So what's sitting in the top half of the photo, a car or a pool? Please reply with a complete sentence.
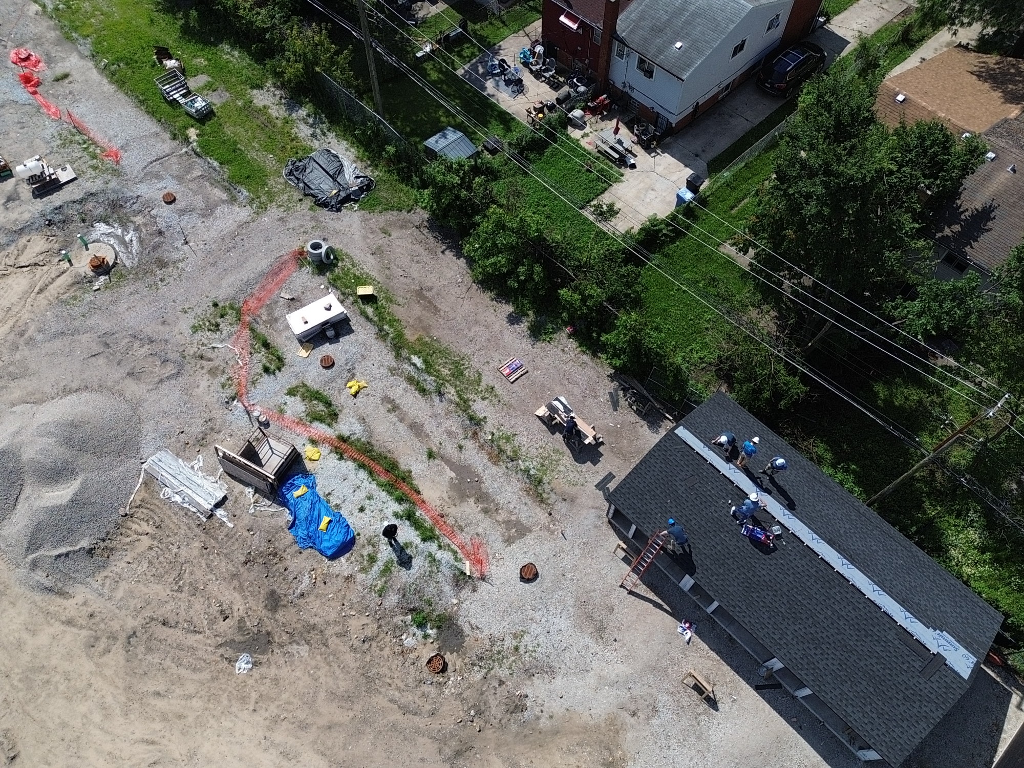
There is a car in the top half of the photo.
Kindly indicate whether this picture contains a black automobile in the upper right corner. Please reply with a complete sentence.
Yes, a black automobile appears in the upper right corner.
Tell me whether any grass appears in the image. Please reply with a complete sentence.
Yes, grass shows up in the scene.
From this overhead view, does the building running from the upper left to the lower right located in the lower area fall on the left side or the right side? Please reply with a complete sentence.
The building running from the upper left to the lower right located in the lower area sits on the right side.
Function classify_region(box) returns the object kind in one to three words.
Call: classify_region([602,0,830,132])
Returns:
house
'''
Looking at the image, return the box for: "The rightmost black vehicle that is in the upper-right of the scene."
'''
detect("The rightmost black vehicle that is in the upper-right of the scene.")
[755,41,830,100]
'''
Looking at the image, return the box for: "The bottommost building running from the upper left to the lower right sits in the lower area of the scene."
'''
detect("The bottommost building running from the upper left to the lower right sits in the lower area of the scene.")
[605,389,1004,768]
